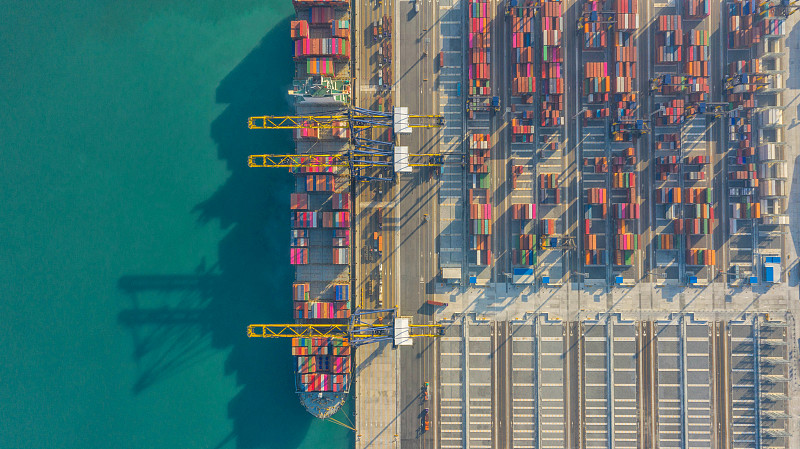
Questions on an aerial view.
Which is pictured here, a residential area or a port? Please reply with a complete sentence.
This image shows a port.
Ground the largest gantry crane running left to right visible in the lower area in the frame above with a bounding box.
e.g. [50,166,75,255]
[247,305,445,347]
